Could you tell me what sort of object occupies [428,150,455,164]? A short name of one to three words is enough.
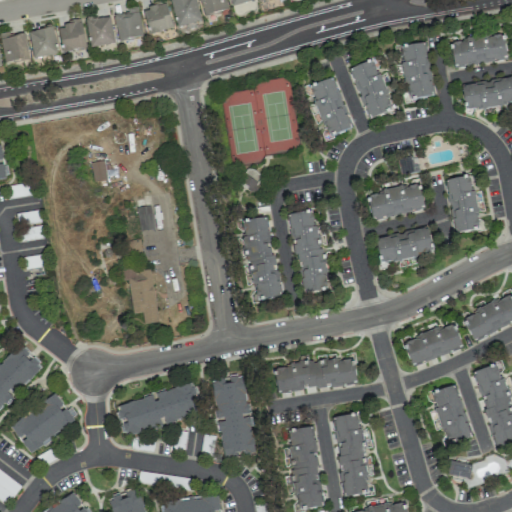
swimming pool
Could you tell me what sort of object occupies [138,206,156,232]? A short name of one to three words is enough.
shed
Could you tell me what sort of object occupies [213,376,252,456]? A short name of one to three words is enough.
building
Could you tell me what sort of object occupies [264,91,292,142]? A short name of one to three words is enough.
tennis court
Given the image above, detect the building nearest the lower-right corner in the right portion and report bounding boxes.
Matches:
[450,461,474,480]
